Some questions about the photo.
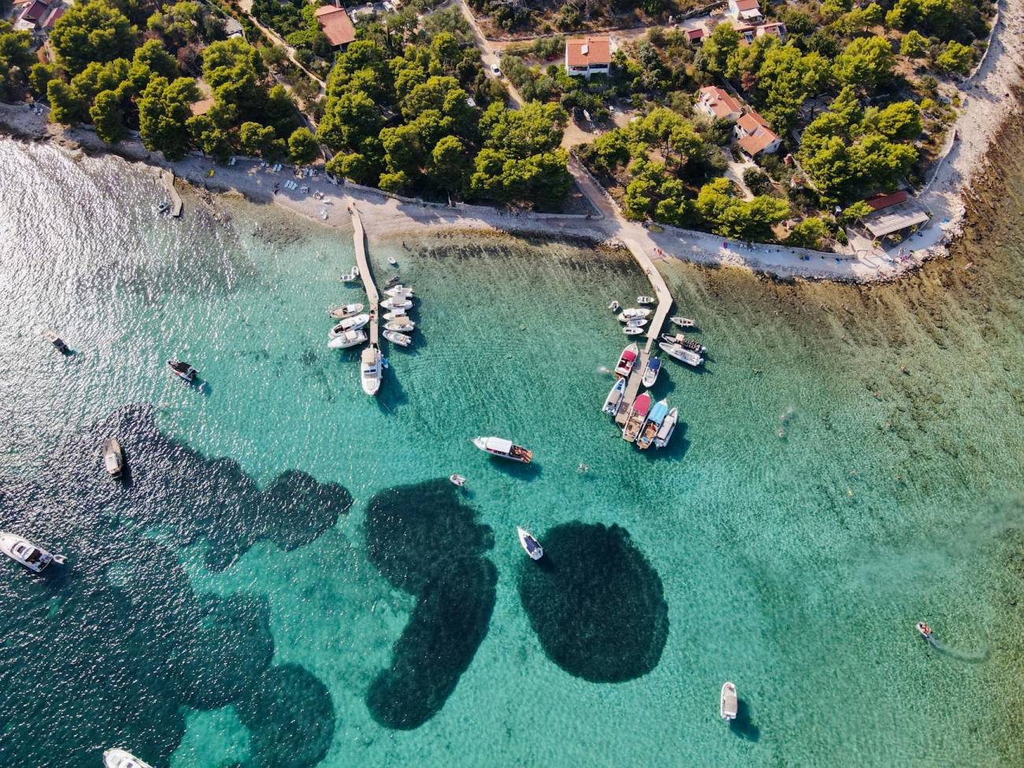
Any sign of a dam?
No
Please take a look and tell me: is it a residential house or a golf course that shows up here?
residential house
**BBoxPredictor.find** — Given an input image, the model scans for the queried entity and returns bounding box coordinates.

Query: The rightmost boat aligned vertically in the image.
[721,683,738,720]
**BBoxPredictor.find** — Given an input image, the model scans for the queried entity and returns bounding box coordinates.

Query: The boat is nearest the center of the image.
[468,436,534,464]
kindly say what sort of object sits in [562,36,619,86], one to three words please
house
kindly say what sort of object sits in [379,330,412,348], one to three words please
boat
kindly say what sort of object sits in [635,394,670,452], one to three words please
boat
